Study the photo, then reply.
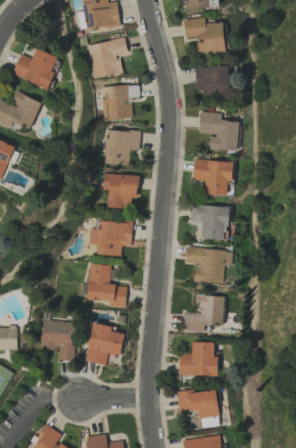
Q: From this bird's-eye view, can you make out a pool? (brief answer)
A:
Yes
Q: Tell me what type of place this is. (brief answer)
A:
residential area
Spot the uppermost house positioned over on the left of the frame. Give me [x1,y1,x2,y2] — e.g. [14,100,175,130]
[76,0,122,28]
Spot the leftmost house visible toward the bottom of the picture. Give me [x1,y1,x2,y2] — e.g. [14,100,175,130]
[0,326,18,350]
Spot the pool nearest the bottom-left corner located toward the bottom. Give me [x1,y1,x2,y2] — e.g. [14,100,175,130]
[0,290,30,327]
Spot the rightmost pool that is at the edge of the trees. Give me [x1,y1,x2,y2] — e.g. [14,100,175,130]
[90,311,118,324]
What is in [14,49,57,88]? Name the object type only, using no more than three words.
house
